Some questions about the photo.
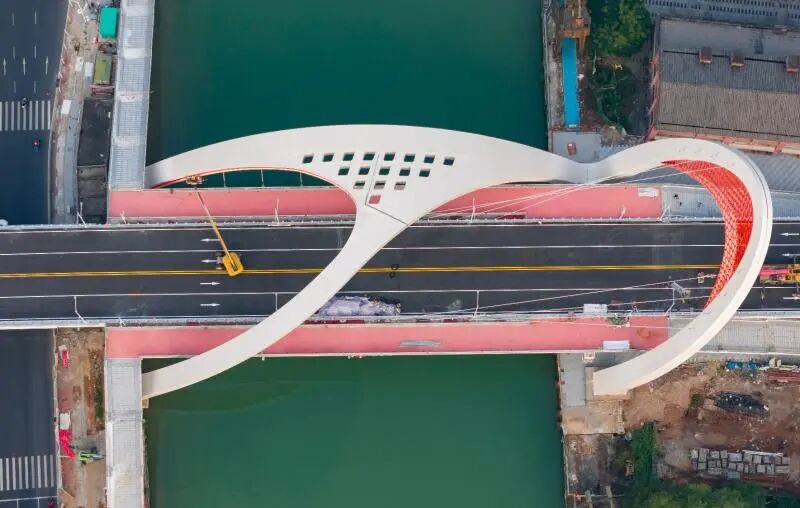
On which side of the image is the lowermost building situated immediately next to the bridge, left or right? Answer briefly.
right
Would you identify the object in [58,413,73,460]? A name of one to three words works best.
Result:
vehicle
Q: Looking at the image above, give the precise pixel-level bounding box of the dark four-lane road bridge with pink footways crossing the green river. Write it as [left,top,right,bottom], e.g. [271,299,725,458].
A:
[0,183,800,360]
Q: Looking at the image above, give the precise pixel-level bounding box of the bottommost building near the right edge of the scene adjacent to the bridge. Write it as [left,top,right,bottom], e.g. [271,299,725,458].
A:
[641,16,800,154]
